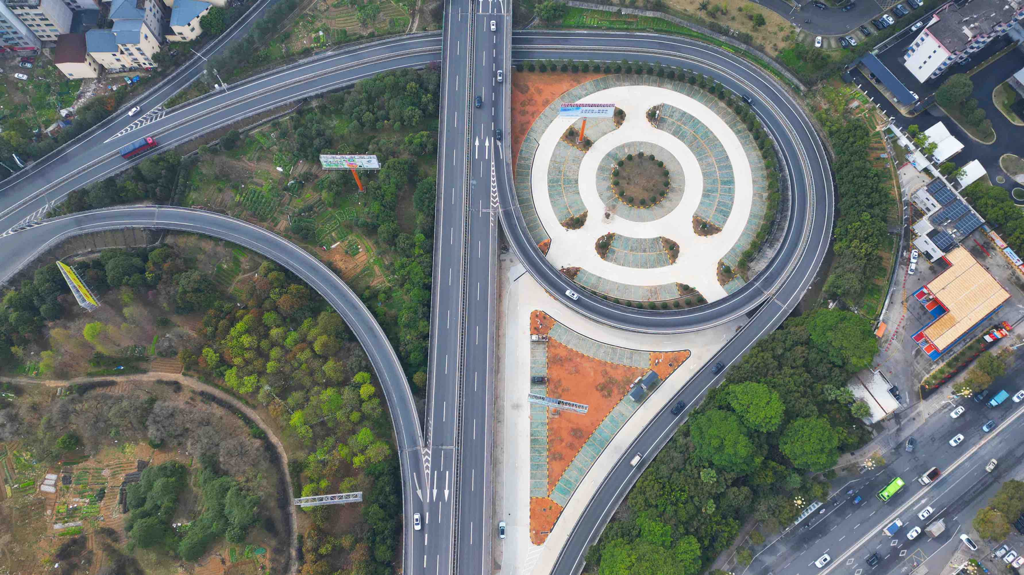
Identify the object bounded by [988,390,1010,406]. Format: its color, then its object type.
blue vehicle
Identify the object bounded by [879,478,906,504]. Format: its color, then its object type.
green bus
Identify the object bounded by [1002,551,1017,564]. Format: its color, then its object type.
white vehicle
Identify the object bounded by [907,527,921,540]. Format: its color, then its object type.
white vehicle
